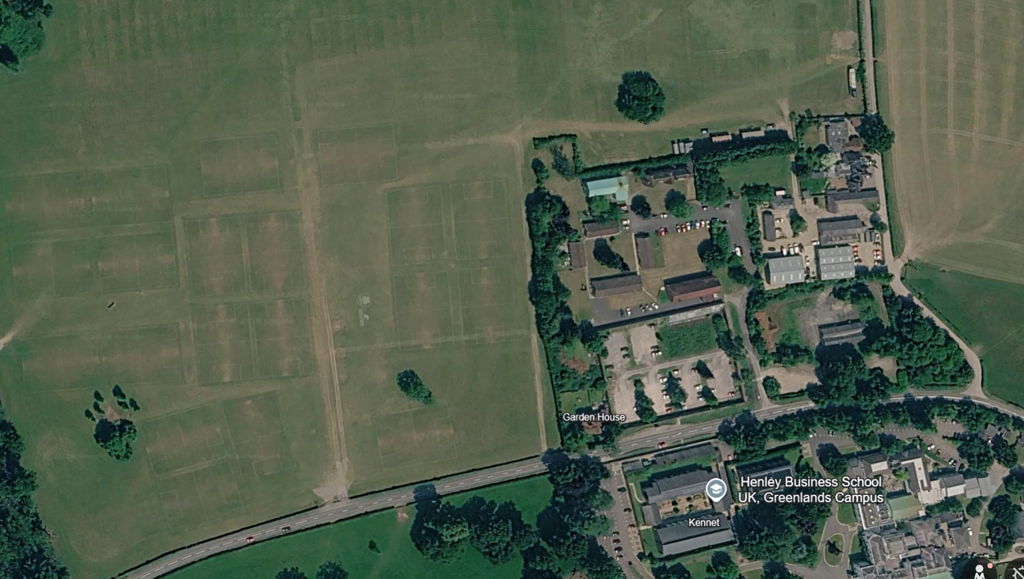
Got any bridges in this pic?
No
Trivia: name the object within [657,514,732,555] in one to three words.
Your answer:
building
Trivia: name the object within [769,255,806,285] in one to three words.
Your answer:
building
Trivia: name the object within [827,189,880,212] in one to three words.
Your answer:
barn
